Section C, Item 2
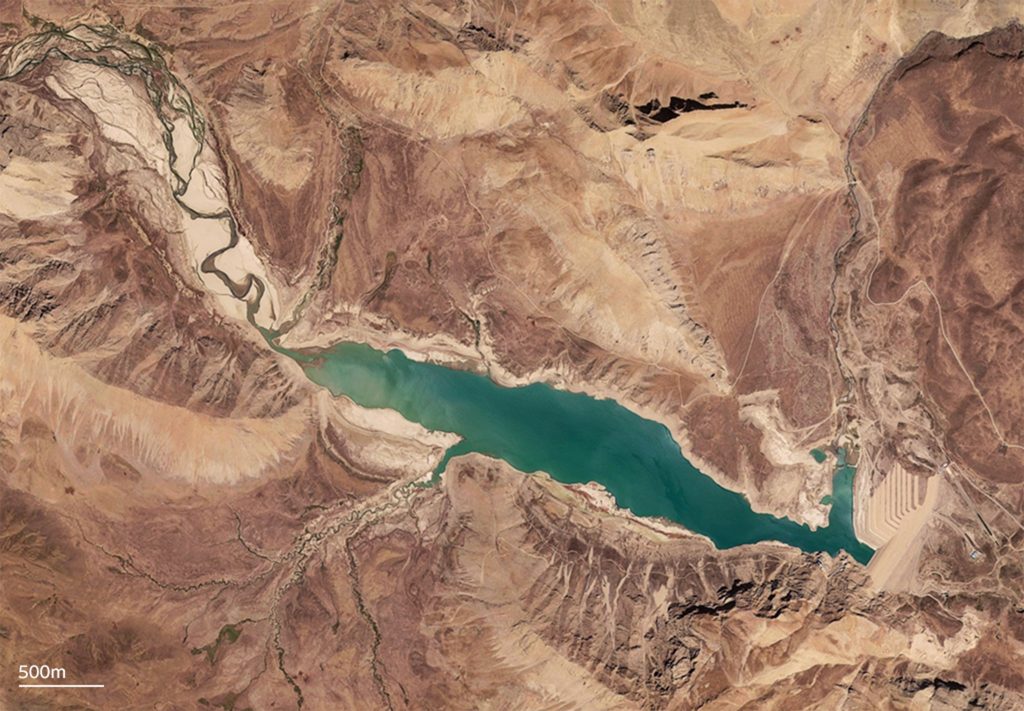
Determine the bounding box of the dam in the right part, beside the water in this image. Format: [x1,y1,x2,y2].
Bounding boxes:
[865,467,944,592]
